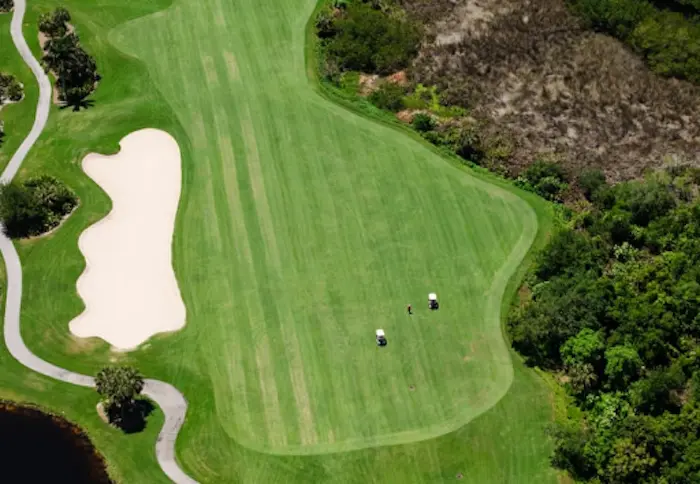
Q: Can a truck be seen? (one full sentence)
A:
No, there is no truck in the image.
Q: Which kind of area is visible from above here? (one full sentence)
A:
This looks like a golf course.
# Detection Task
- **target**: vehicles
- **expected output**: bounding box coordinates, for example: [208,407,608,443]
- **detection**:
[429,294,440,311]
[377,330,388,348]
